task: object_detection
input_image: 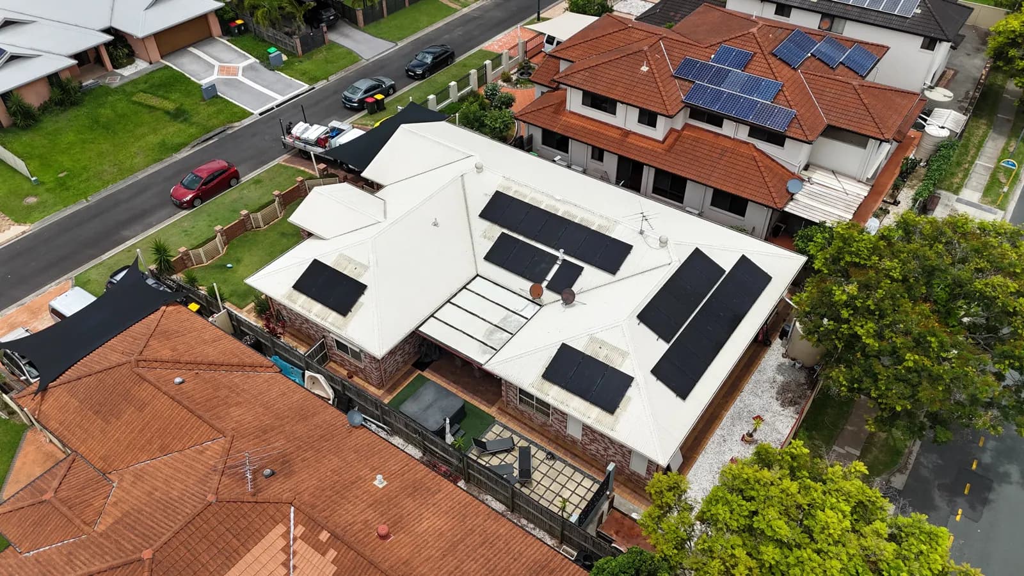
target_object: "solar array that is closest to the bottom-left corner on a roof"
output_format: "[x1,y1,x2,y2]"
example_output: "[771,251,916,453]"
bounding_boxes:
[292,260,366,316]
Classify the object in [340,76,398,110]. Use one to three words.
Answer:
car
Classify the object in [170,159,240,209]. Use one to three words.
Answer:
car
